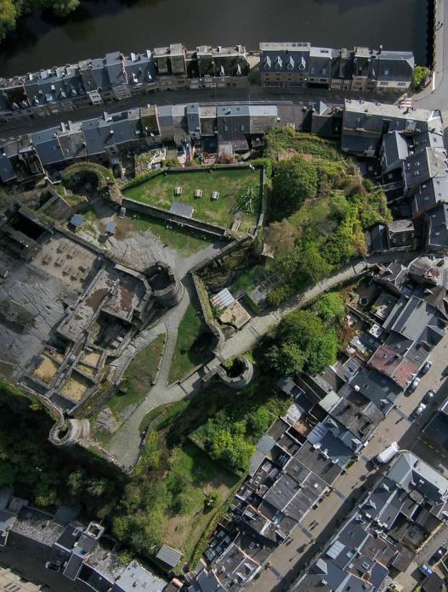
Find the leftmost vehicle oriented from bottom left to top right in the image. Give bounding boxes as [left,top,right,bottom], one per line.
[372,440,397,469]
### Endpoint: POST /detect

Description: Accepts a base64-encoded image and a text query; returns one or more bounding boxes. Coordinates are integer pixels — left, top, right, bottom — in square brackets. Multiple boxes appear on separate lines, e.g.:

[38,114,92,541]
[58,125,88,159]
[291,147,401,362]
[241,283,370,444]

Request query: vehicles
[407,374,422,393]
[372,440,397,469]
[420,359,434,377]
[412,401,427,418]
[423,386,437,404]
[418,564,431,575]
[429,546,446,566]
